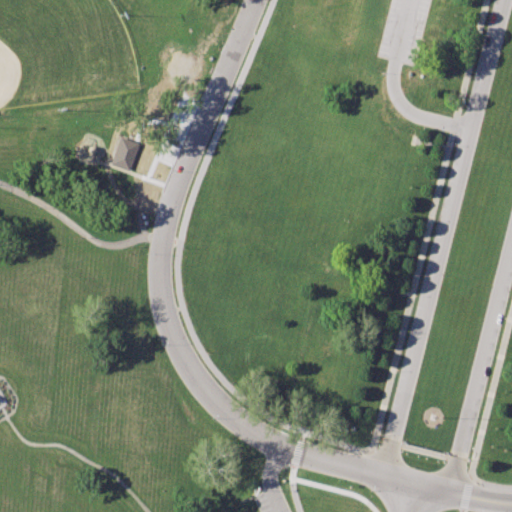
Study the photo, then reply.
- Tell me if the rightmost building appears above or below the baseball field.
below it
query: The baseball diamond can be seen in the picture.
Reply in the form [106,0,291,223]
[0,0,140,111]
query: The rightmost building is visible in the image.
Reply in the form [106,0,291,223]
[112,136,140,170]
